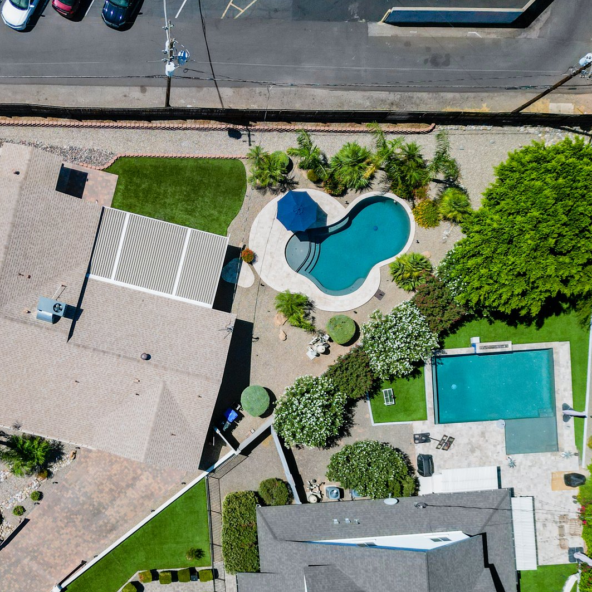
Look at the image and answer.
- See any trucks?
No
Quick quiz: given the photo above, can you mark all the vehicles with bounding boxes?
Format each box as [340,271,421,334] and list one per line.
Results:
[50,0,86,19]
[102,0,141,30]
[5,0,45,31]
